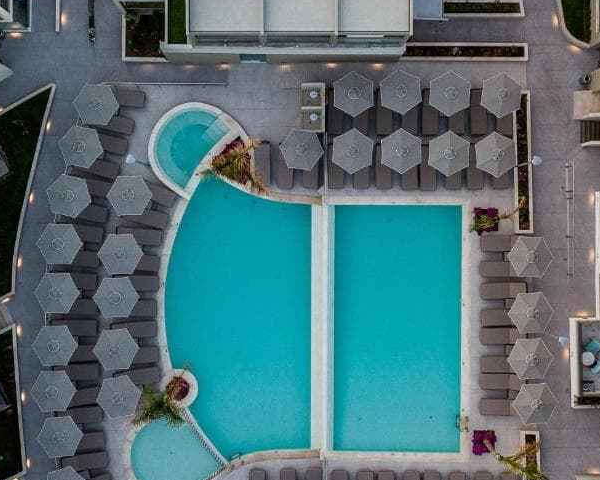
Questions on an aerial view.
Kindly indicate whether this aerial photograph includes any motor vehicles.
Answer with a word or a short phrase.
No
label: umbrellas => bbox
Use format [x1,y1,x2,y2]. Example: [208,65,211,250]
[474,131,517,177]
[429,129,470,176]
[281,128,327,172]
[333,127,374,174]
[107,175,154,216]
[35,274,82,315]
[30,370,76,411]
[479,72,522,118]
[99,233,147,274]
[506,291,553,332]
[57,124,103,168]
[506,236,552,278]
[428,69,469,115]
[94,330,141,372]
[93,275,140,316]
[95,373,142,418]
[38,223,85,265]
[73,85,120,127]
[379,129,420,176]
[49,465,90,480]
[34,326,82,367]
[46,176,92,220]
[379,68,420,114]
[38,415,85,458]
[510,381,556,425]
[506,336,553,378]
